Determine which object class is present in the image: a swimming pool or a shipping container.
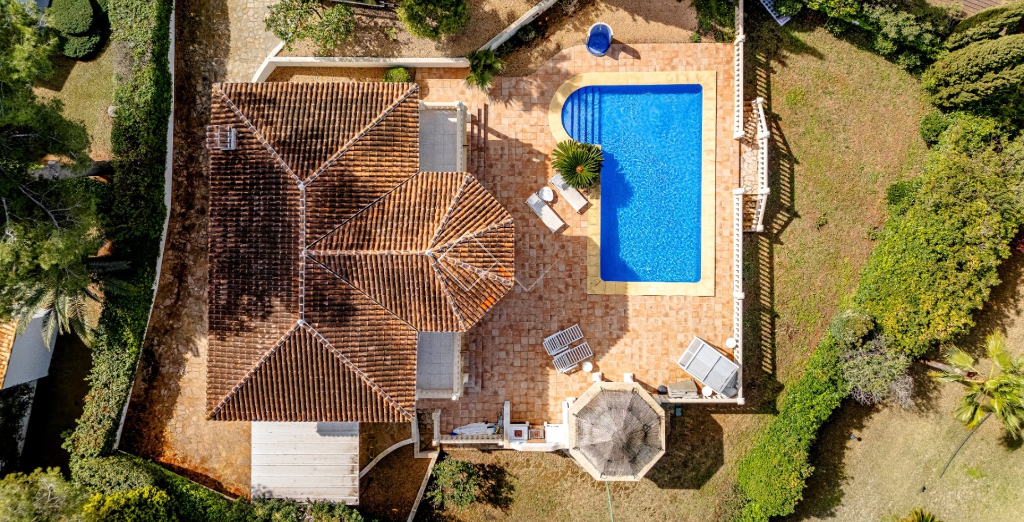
swimming pool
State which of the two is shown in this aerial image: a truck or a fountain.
fountain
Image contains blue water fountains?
Yes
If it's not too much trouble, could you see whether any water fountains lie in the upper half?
Yes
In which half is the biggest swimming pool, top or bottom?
top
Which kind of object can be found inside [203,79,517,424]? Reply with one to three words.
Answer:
house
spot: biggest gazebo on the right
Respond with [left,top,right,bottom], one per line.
[567,375,665,481]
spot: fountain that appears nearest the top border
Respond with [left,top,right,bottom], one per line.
[585,21,613,59]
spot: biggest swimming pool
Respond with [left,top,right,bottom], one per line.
[562,84,702,281]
